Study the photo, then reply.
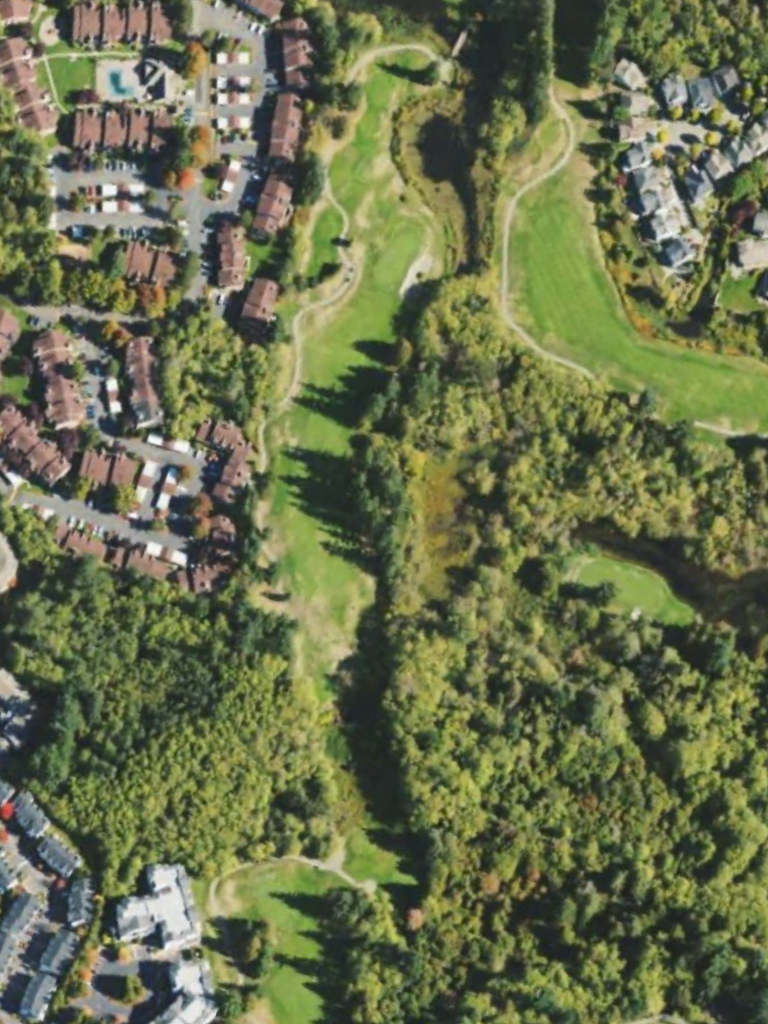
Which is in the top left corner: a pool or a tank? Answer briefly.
pool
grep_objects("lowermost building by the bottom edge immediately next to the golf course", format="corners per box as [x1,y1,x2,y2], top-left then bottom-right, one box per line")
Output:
[153,955,220,1024]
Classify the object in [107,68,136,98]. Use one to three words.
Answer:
swimming pool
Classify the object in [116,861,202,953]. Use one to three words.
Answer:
building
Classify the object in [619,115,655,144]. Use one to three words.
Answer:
house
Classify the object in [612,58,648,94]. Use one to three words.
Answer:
house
